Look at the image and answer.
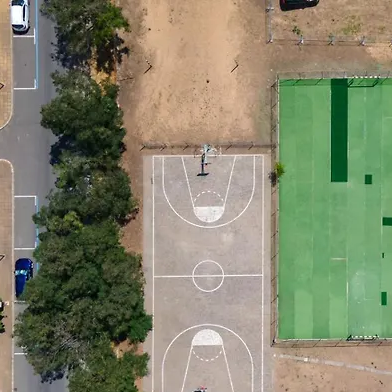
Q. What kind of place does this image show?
sports ground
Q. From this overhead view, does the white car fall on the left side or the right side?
left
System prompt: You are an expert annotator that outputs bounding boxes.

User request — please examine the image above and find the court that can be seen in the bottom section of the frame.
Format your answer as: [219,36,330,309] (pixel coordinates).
[143,152,272,392]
